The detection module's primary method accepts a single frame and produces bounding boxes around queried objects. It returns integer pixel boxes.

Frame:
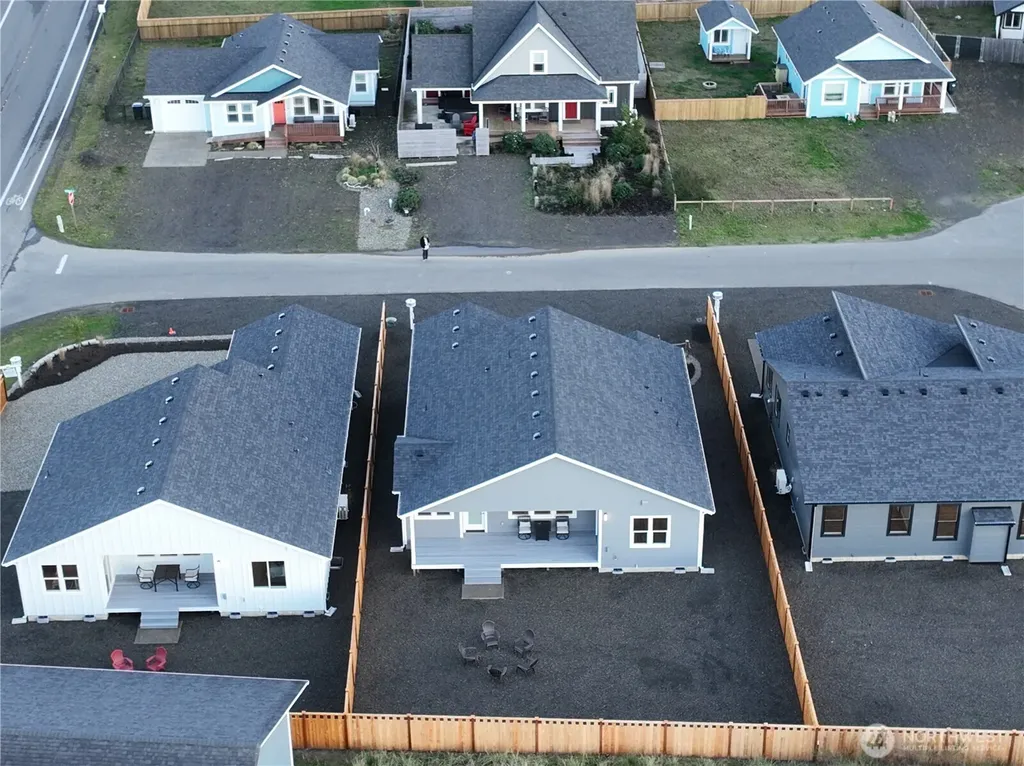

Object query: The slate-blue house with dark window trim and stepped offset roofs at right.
[755,288,1024,566]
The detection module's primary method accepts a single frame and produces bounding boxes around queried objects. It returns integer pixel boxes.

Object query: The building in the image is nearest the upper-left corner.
[140,10,384,150]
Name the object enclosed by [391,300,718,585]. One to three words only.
house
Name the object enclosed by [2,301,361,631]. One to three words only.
house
